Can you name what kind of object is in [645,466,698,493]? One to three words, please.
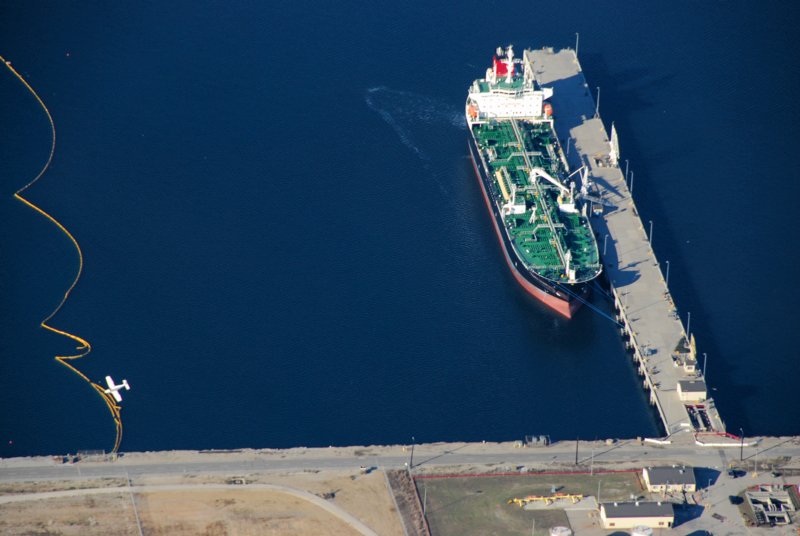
building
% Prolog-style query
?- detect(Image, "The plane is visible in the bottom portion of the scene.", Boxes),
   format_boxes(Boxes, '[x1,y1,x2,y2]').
[105,376,130,398]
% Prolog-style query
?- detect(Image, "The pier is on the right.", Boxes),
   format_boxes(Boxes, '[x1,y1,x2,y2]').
[523,46,727,441]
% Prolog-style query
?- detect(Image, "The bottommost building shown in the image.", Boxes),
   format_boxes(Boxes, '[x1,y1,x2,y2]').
[599,500,675,531]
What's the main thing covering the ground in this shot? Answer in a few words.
water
